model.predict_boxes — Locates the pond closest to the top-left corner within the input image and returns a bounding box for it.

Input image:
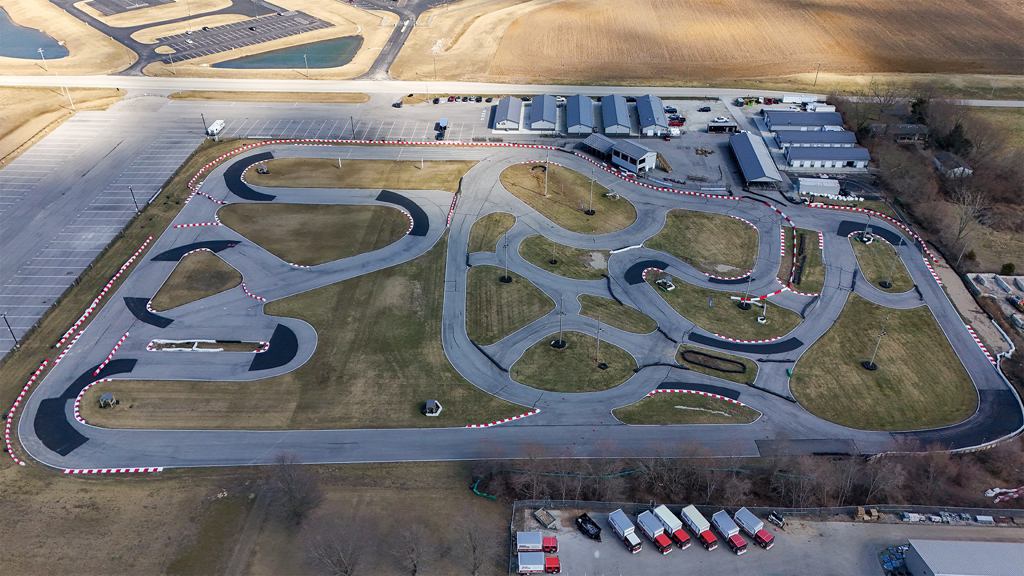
[0,7,69,59]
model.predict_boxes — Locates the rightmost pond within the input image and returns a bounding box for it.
[210,35,363,69]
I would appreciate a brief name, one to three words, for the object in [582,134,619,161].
building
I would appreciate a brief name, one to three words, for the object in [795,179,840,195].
shed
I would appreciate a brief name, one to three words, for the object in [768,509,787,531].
work vehicle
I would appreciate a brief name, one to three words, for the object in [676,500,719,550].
truck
